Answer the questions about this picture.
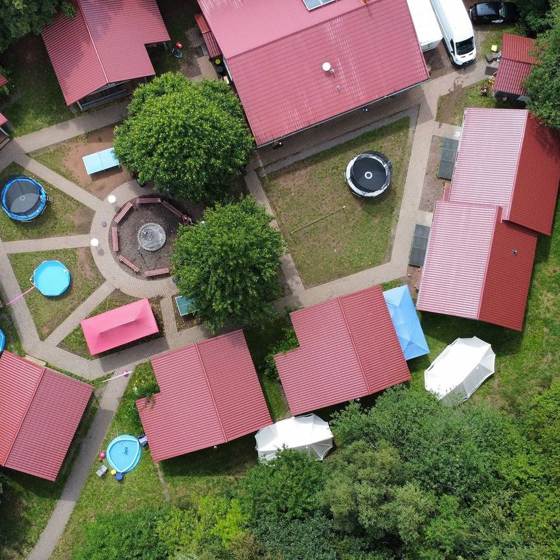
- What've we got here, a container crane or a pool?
pool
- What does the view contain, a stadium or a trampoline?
trampoline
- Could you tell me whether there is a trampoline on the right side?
Yes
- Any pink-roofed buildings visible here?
Yes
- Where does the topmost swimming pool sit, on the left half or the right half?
left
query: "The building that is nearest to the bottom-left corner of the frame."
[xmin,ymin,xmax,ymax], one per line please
[0,347,95,480]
